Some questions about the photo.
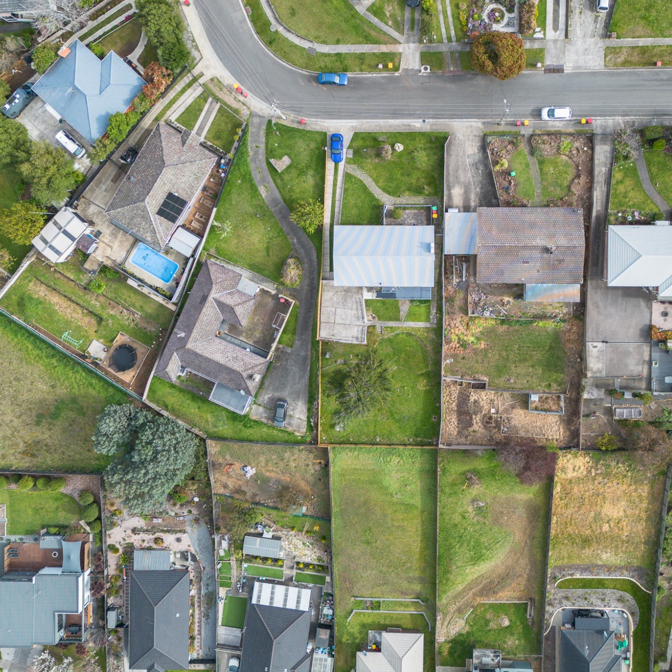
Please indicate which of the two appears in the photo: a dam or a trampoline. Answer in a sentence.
Looking from above, you can make out a trampoline.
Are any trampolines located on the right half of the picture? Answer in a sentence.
No, the scene shows no trampoline on the right half of the picture.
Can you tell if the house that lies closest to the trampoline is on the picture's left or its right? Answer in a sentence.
It is on the left.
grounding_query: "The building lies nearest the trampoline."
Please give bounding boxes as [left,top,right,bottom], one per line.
[151,259,270,415]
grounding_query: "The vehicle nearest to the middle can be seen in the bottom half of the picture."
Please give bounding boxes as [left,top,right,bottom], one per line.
[273,399,289,427]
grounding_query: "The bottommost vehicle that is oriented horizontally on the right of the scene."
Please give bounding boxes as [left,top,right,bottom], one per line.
[540,106,572,121]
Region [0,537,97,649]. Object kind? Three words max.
house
